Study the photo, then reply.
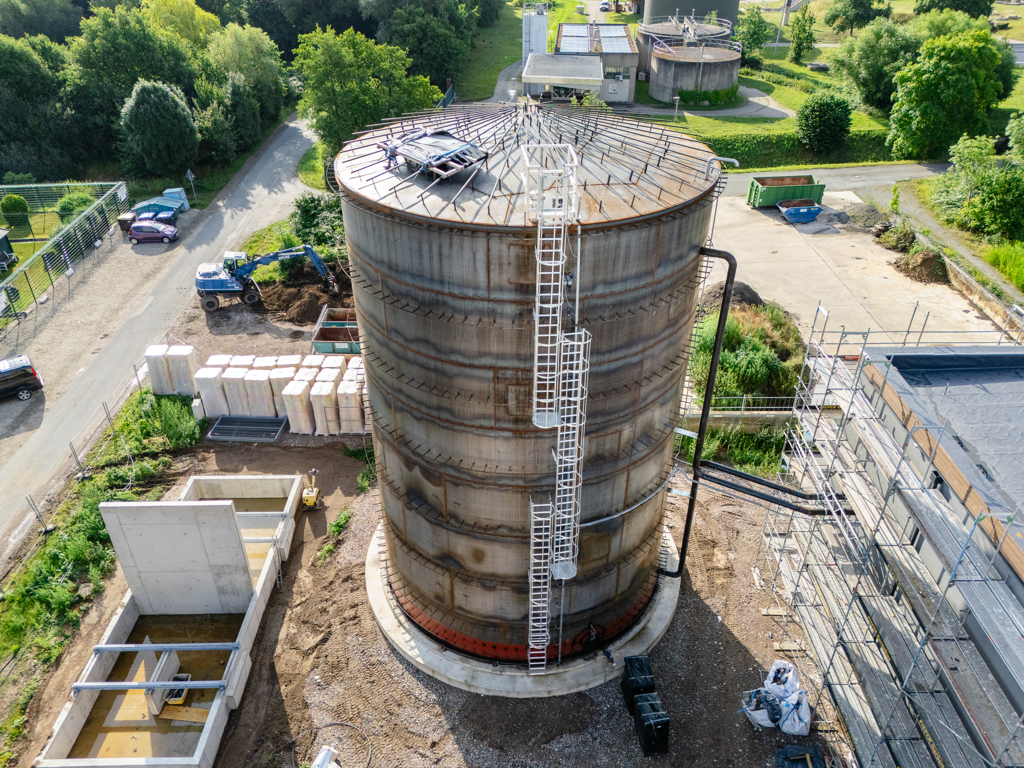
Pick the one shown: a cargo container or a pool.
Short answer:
cargo container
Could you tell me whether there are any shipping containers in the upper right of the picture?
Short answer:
Yes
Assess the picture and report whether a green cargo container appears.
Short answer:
Yes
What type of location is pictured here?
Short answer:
industrial area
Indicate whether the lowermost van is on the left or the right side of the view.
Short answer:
left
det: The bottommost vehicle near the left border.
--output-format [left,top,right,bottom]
[0,349,55,399]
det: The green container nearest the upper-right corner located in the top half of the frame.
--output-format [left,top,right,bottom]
[744,175,828,205]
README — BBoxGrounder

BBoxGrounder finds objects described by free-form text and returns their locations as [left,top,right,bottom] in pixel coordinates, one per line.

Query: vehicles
[188,238,350,306]
[600,2,609,10]
[0,349,55,399]
[126,216,184,243]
